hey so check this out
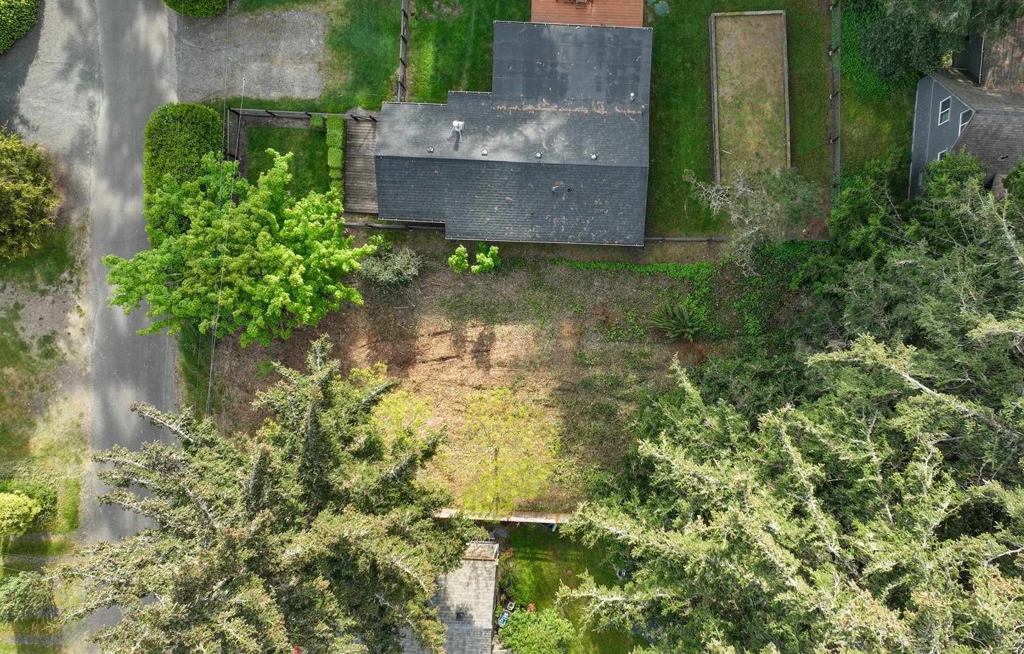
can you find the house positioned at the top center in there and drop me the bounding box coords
[372,20,651,251]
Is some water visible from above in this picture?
No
